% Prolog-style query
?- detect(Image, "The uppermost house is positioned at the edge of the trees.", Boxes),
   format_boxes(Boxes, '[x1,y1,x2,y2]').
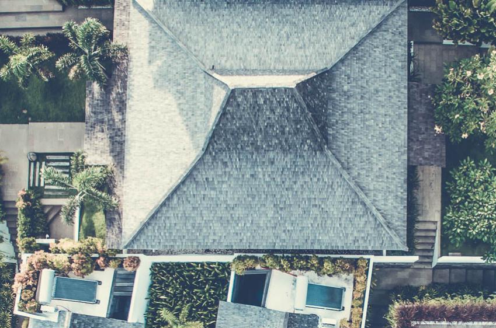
[85,0,446,269]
